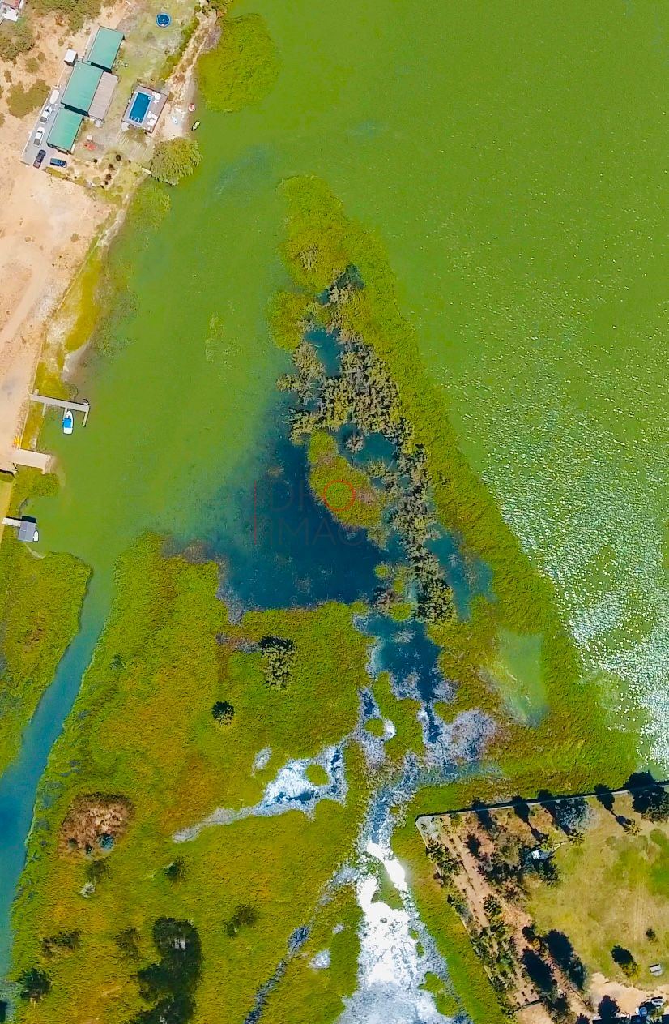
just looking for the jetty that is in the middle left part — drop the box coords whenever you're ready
[29,391,90,427]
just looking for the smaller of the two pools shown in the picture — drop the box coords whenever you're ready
[156,12,171,28]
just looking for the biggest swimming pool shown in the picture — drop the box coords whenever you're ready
[121,86,169,134]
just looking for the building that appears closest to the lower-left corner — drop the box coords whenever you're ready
[19,521,38,542]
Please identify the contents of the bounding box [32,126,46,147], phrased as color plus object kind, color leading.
white vehicle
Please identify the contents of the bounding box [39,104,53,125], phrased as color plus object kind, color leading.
white vehicle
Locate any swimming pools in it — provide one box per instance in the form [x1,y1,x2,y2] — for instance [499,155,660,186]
[156,12,171,28]
[121,86,169,134]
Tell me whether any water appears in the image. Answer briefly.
Yes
